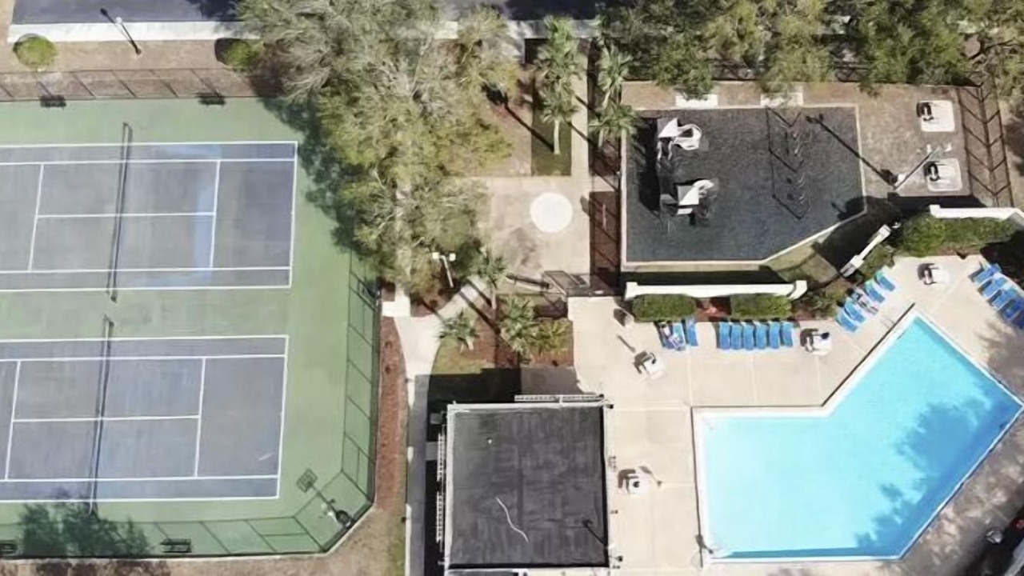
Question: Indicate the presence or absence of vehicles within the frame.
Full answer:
No, the frame has no vehicle in it.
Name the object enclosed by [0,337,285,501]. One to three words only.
tennis court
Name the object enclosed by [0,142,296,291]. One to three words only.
tennis court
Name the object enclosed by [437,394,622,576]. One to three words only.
building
